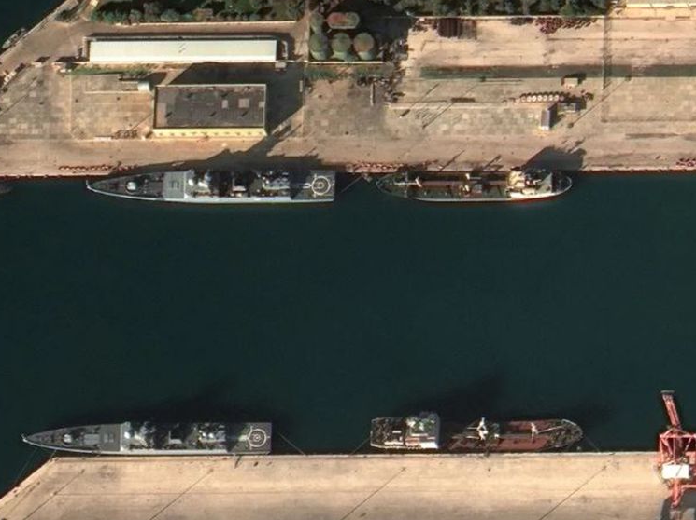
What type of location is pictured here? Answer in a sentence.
It's a port.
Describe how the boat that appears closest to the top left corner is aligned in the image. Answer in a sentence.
I'd say the boat that appears closest to the top left corner is aligned diagonally in the picture.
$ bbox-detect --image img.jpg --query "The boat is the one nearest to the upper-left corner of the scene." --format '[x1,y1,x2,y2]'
[3,27,27,49]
